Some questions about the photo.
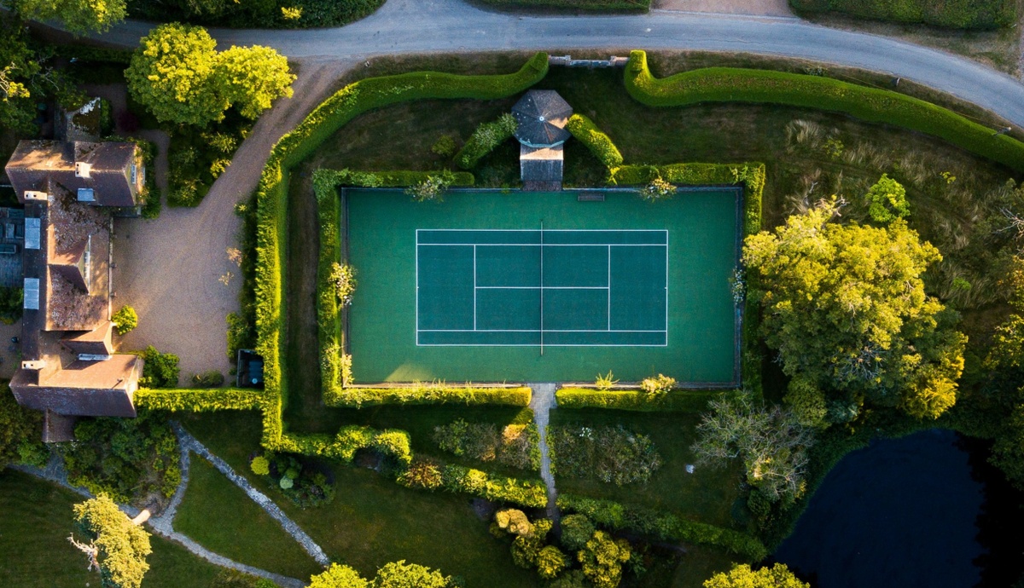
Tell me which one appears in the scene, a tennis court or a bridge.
tennis court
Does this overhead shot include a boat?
No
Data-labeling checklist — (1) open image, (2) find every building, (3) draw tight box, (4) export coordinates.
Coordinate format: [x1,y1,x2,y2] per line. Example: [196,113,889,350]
[1,139,155,446]
[512,89,572,182]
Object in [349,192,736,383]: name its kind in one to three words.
tennis court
